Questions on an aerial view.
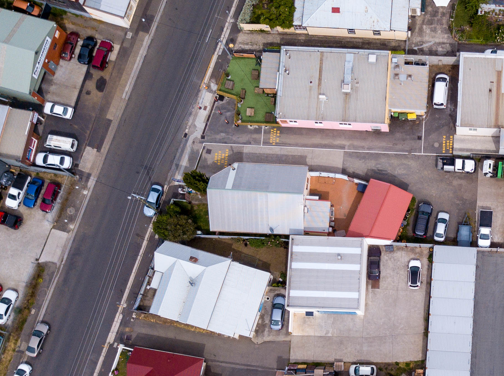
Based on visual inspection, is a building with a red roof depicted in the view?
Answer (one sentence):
Yes, I can see a building with a red roof in this picture.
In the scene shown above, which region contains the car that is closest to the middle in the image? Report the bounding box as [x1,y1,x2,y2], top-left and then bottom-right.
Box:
[143,184,165,217]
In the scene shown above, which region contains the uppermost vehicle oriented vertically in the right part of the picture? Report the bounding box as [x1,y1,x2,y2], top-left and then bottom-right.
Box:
[433,73,449,110]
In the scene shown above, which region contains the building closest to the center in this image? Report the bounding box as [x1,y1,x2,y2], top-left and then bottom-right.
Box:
[207,163,332,238]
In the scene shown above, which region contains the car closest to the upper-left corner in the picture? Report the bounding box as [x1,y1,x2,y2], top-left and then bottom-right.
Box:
[10,0,45,18]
